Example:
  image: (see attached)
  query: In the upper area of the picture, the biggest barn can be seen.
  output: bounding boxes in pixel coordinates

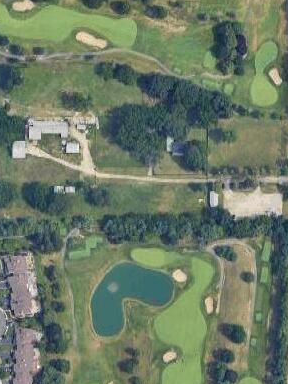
[28,119,68,140]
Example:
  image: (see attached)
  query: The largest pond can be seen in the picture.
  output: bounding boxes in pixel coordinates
[90,261,174,336]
